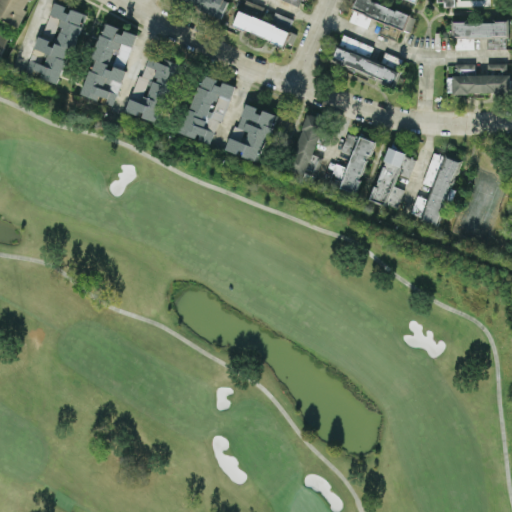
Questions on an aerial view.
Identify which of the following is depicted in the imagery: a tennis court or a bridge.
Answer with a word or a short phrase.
tennis court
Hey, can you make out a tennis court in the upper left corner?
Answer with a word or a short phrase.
No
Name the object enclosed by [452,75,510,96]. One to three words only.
house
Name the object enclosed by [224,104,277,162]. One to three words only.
house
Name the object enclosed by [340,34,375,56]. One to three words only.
building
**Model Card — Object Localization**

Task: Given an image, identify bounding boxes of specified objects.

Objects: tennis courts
[460,168,504,234]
